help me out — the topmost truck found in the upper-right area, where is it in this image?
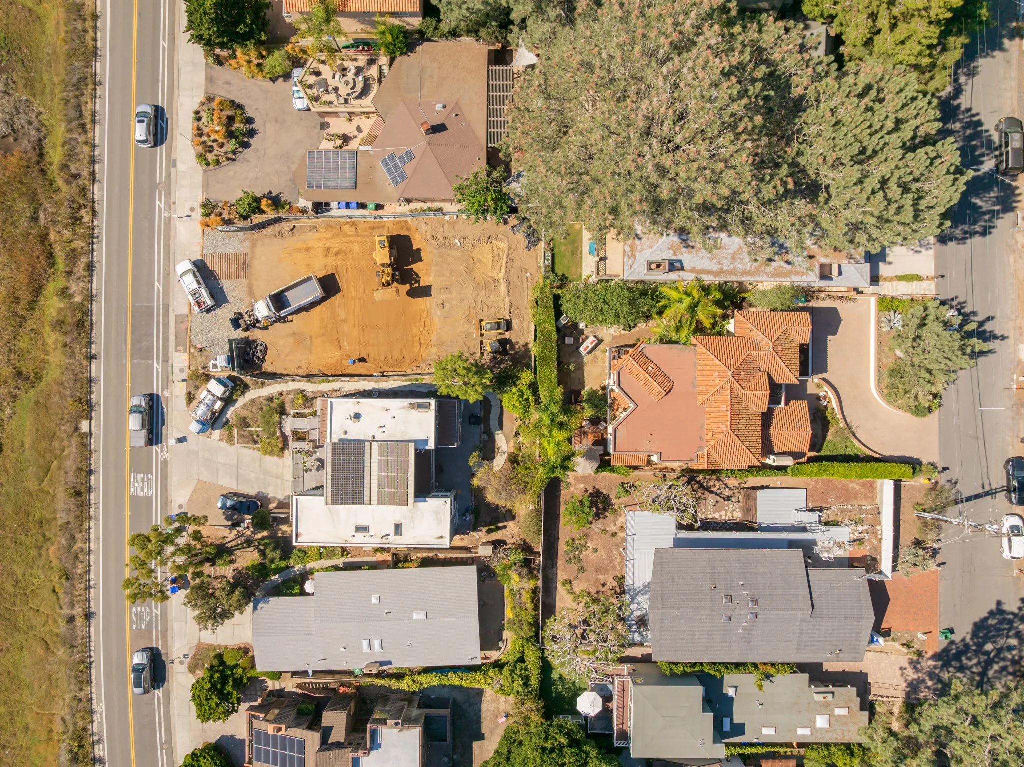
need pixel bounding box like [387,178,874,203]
[1001,118,1024,175]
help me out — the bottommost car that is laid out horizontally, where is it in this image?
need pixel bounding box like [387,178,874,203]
[217,494,262,517]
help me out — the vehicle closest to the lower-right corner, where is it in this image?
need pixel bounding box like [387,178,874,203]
[1002,515,1024,558]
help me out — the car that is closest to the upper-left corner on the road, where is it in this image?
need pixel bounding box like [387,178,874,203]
[133,105,157,149]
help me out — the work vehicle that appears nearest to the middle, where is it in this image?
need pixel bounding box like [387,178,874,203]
[482,339,517,357]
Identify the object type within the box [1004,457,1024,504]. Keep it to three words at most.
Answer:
car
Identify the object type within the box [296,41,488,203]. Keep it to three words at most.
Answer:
house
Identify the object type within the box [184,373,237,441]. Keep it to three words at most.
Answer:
truck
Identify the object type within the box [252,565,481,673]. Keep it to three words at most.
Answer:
house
